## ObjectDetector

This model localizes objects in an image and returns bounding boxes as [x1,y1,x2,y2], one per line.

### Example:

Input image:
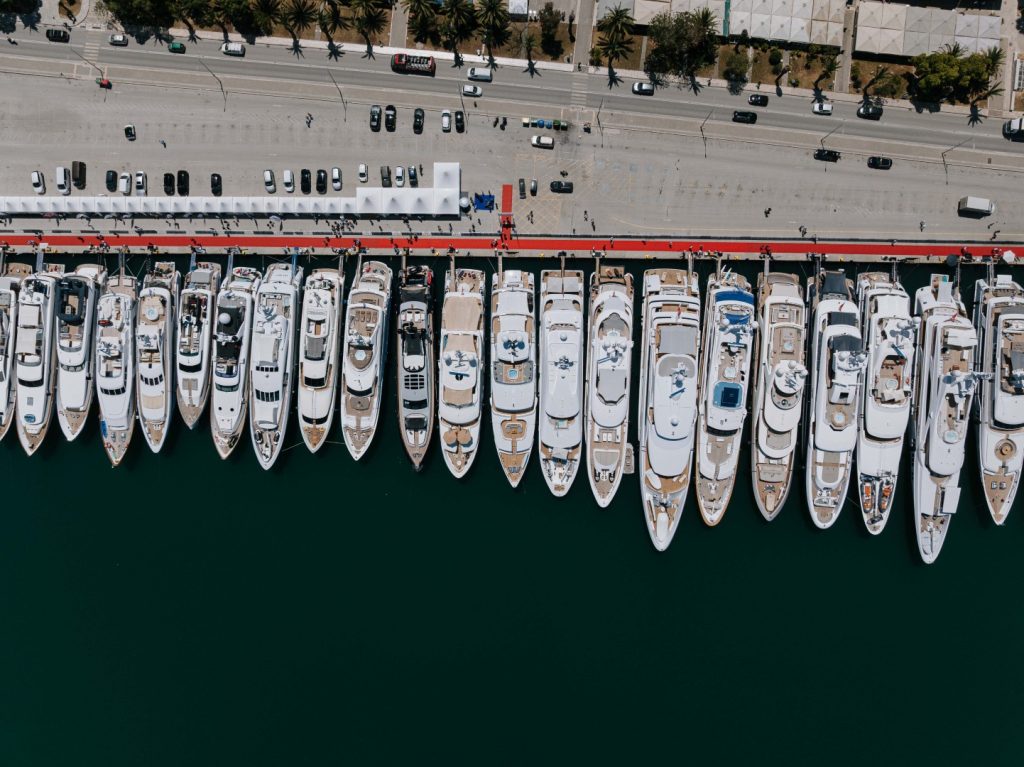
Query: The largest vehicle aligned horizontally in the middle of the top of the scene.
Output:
[388,53,435,77]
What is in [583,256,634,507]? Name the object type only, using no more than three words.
boat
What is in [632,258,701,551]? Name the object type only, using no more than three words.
boat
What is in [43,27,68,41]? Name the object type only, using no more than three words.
car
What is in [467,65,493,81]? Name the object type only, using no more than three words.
vehicle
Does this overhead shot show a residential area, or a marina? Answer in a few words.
marina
